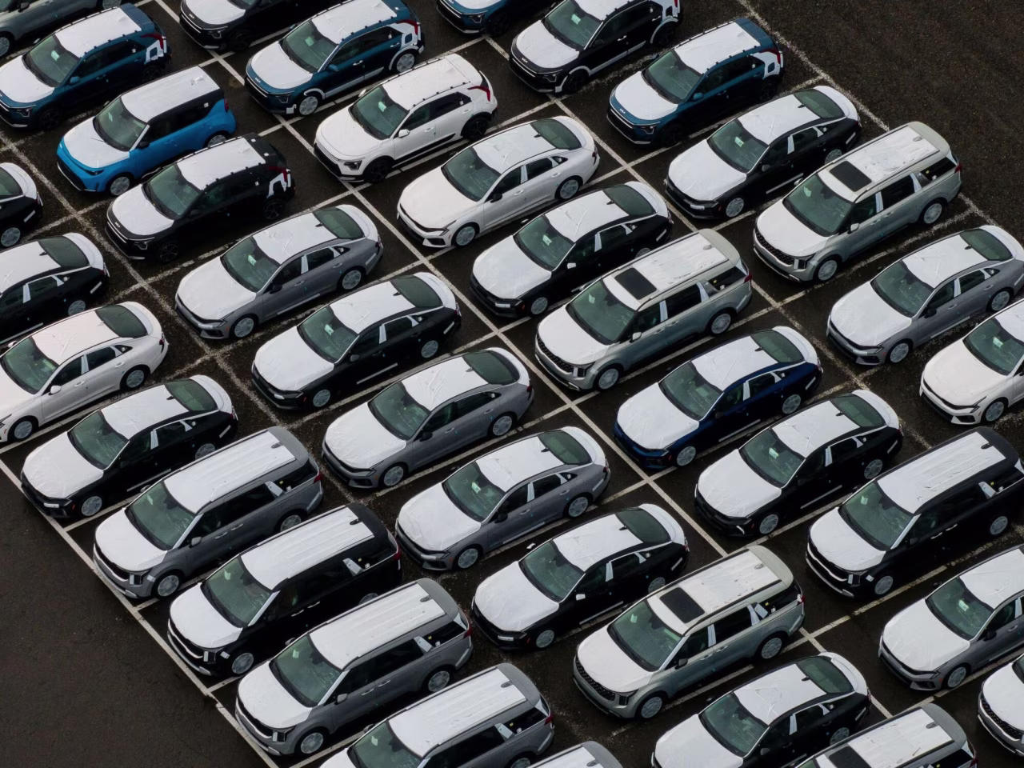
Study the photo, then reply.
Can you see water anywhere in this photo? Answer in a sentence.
No, there's no water in this view.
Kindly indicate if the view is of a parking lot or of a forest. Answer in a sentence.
It's a parking lot.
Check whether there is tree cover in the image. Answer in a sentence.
No, the scene doesn't show any tree cover.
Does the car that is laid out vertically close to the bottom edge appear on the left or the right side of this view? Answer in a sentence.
You can find the car that is laid out vertically close to the bottom edge on the right side of the picture.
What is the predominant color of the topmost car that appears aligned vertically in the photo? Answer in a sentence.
The color of the topmost car that appears aligned vertically is black.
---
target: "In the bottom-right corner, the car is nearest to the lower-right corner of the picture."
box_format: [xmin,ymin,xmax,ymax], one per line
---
[974,631,1024,743]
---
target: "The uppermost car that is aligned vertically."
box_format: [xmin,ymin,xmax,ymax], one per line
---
[0,159,40,249]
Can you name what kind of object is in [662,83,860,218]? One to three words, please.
car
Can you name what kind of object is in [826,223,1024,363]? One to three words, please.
car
